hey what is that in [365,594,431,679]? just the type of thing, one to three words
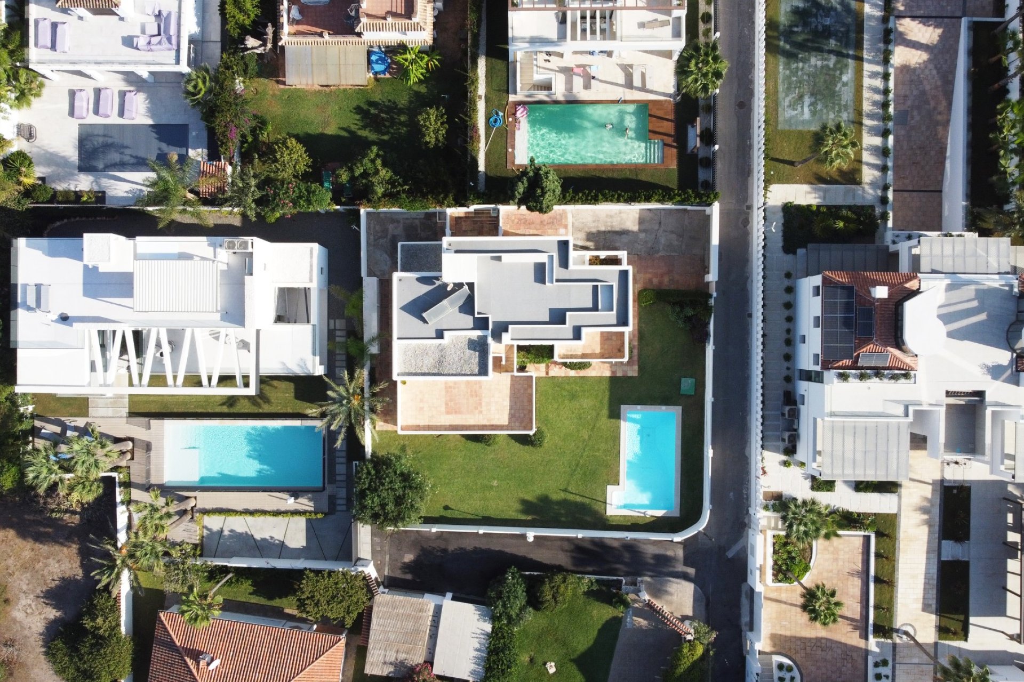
shed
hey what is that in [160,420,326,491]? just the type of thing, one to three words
swimming pool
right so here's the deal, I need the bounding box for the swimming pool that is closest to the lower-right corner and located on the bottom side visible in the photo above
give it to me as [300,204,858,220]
[606,404,682,516]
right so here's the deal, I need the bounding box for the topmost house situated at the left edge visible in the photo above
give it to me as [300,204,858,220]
[31,0,196,82]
